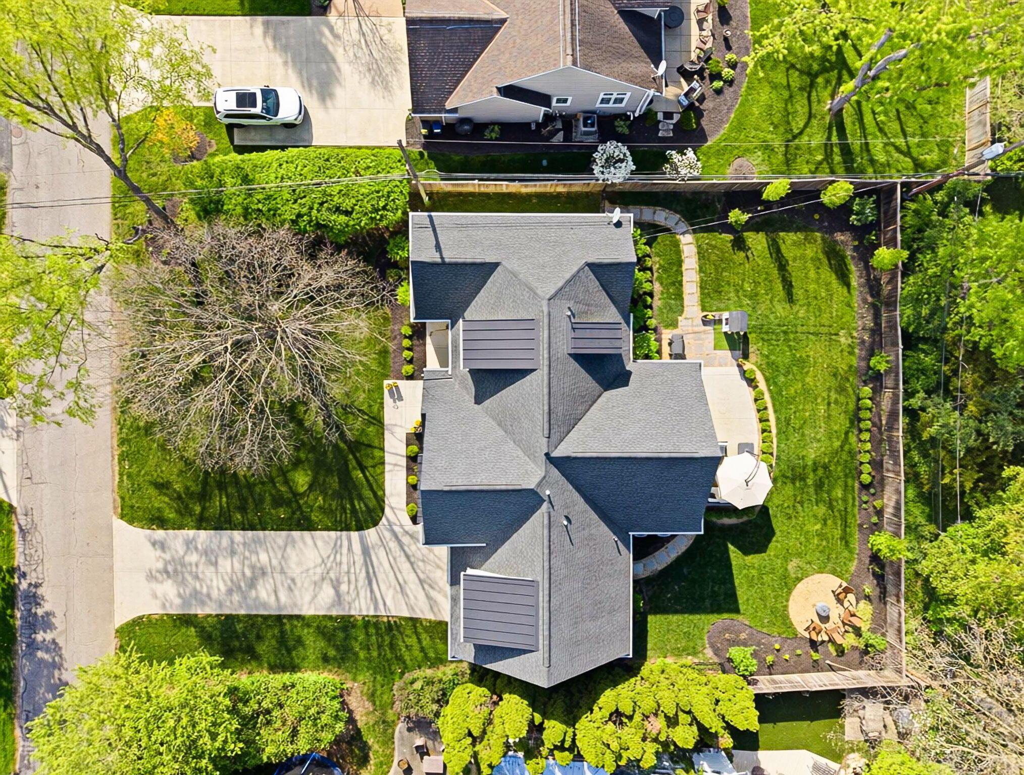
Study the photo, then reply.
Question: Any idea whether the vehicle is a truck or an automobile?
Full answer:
The vehicle appears to be an automobile.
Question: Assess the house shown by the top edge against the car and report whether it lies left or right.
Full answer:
Relative to the car, the house shown by the top edge lies to the right.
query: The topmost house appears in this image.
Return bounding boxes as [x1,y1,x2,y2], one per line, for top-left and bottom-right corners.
[407,0,682,135]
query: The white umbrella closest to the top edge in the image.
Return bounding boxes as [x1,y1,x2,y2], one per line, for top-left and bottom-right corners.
[715,441,771,507]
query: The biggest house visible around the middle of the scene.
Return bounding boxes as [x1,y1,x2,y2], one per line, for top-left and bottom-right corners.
[408,210,721,693]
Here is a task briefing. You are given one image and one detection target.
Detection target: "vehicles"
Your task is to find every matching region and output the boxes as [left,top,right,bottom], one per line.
[213,82,307,130]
